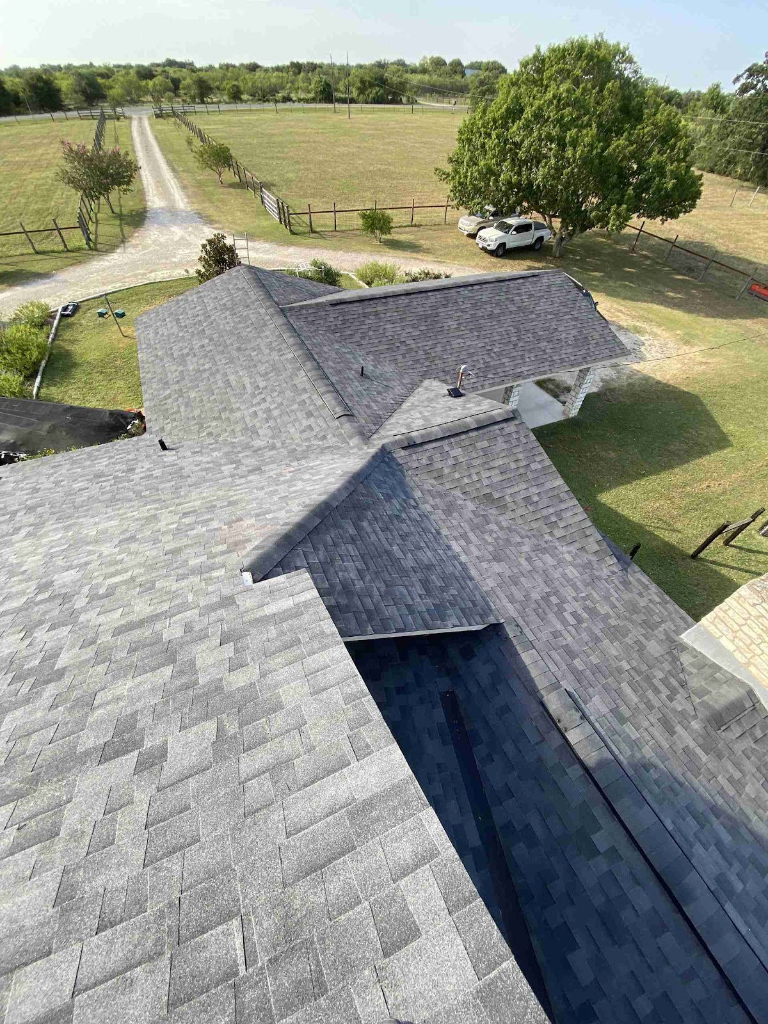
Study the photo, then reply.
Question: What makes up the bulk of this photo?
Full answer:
Most of the picture is covered by buildings.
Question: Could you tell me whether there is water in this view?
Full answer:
No, the picture contains no water.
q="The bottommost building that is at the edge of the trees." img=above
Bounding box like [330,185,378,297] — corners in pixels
[0,263,768,1024]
